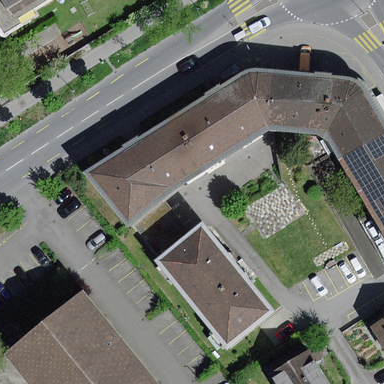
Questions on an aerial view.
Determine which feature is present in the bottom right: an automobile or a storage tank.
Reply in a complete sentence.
The feature located in the bottom right is an automobile.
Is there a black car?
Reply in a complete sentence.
Yes, the frame does contain a black car.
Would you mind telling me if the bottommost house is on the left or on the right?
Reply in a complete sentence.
The bottommost house sits on the right side.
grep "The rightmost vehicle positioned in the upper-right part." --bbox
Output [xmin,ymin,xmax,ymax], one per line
[300,46,312,71]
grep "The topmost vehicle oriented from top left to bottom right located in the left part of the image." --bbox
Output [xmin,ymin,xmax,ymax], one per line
[32,244,51,267]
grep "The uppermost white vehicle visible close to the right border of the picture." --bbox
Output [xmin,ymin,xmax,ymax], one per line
[363,219,380,240]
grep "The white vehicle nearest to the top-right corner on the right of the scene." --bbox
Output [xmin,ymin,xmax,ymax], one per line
[249,16,272,34]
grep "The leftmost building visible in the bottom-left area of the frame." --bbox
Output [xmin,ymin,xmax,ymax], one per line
[4,290,152,384]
